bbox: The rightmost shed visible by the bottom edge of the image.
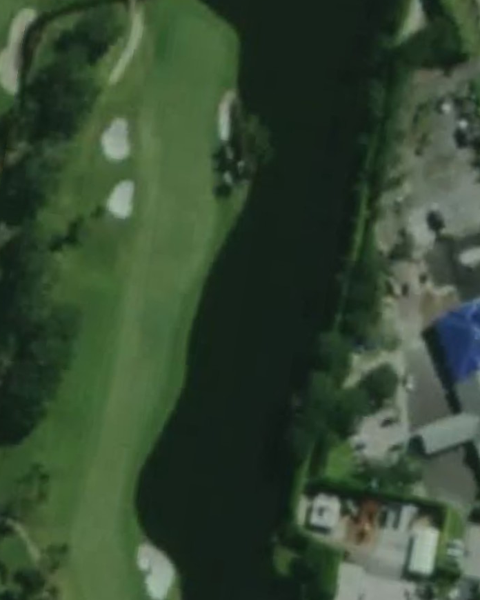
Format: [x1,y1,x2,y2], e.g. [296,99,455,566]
[410,532,440,575]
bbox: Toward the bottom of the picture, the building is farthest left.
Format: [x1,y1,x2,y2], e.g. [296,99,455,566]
[311,497,341,529]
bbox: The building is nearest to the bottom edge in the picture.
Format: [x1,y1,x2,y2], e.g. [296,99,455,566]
[333,564,362,600]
